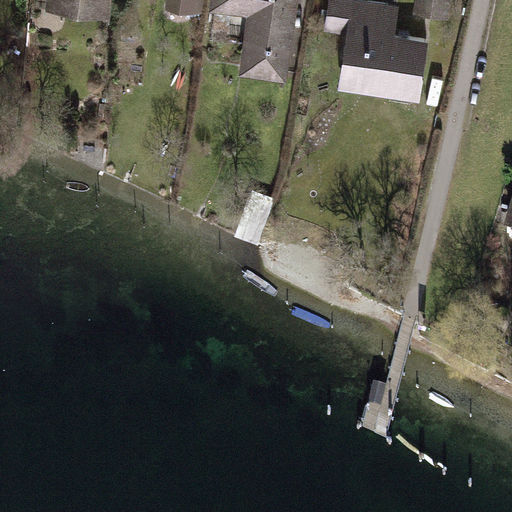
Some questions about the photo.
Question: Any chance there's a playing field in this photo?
No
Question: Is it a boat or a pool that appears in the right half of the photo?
boat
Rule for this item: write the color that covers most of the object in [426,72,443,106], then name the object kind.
white camper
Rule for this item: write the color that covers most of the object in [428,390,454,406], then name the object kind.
white boat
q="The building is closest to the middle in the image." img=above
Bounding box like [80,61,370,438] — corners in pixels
[234,188,273,244]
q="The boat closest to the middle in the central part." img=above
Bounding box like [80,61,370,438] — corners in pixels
[242,264,280,296]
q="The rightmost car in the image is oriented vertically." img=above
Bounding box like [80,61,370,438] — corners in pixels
[499,188,512,210]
